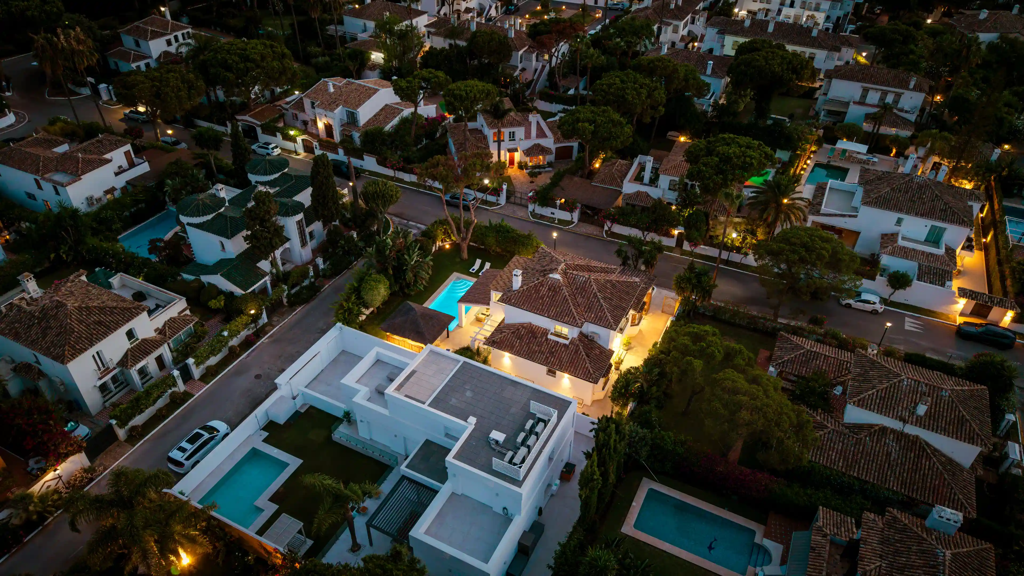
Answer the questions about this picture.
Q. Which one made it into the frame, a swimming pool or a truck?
swimming pool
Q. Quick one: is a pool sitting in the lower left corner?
Yes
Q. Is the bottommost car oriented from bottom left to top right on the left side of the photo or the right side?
left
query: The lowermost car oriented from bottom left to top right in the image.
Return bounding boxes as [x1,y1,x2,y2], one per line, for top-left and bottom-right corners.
[166,421,228,472]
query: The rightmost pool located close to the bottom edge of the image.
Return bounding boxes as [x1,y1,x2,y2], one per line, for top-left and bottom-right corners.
[619,477,782,576]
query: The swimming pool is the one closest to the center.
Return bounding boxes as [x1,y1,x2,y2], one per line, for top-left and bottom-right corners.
[422,272,479,334]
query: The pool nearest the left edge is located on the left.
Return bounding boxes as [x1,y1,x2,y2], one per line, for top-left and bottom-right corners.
[113,205,188,265]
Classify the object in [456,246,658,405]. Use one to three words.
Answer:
house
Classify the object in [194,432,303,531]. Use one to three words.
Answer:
swimming pool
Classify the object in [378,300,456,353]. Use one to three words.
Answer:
building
